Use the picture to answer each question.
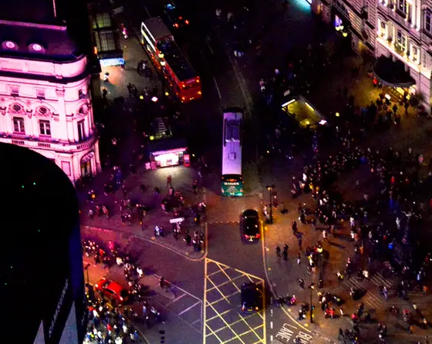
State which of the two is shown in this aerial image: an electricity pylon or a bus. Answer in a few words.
bus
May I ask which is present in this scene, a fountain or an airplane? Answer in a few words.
fountain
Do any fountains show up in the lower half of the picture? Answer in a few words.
Yes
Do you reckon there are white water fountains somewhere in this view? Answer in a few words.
No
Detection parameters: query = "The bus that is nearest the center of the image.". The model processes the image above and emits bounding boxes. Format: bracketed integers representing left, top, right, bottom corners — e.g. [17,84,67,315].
[218,122,243,203]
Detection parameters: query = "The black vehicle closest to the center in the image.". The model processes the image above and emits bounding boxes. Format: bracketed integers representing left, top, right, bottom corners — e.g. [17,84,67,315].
[242,212,261,241]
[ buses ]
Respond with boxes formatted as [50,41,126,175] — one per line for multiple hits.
[218,122,243,203]
[139,34,202,112]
